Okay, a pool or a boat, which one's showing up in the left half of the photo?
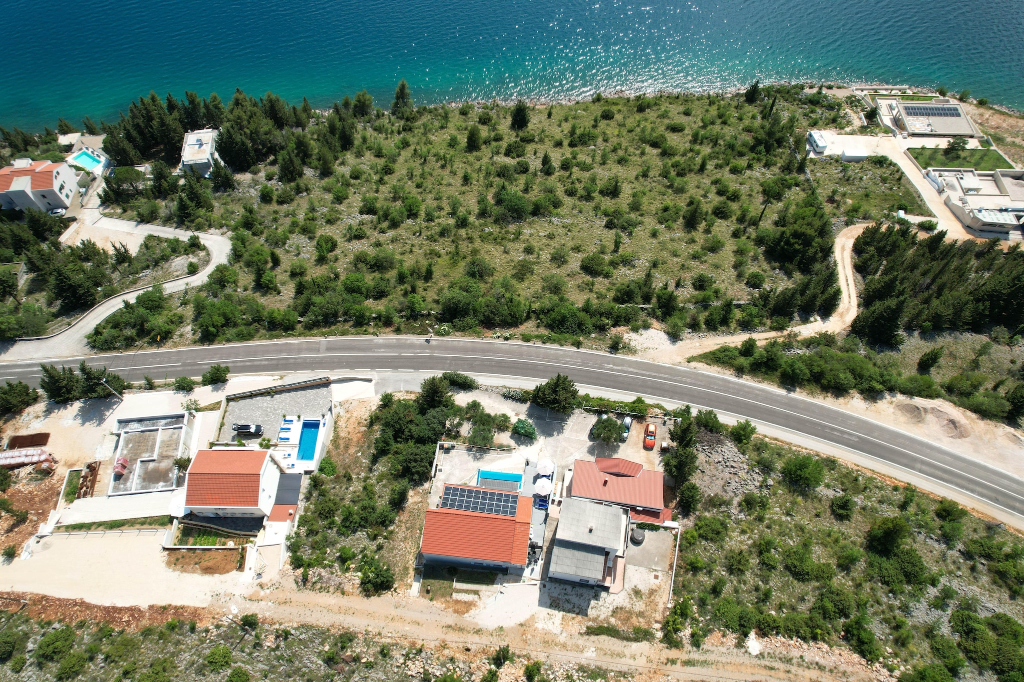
pool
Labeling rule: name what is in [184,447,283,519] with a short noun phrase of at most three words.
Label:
house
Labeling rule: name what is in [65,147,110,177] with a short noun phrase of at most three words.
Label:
swimming pool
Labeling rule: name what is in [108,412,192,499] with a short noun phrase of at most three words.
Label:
building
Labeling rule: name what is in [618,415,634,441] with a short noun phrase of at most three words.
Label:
car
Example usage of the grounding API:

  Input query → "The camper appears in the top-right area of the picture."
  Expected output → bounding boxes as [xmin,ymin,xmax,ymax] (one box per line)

[807,130,827,153]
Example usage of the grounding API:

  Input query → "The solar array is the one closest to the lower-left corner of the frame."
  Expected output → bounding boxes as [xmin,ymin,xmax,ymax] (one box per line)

[440,486,519,516]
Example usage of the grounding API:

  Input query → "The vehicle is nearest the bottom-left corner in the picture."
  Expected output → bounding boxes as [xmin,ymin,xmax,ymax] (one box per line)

[229,422,264,437]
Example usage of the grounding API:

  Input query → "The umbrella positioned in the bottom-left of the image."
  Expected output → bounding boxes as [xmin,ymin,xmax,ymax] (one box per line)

[167,494,192,520]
